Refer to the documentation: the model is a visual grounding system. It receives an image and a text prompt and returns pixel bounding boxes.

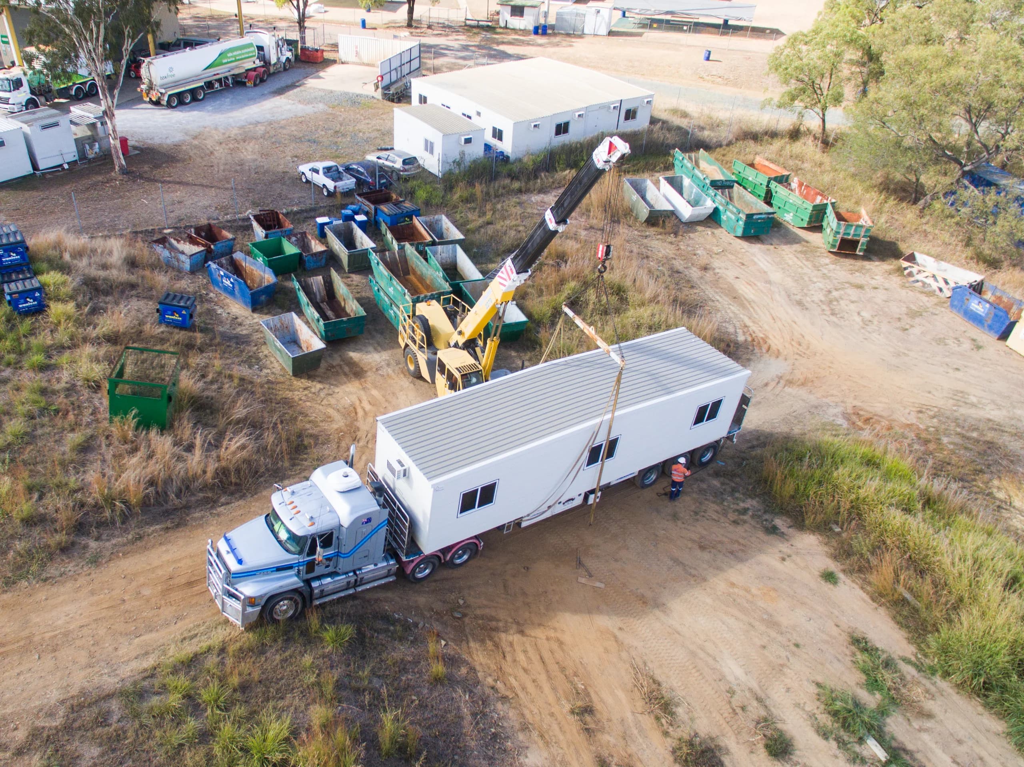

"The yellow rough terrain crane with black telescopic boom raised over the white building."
[399,143,640,399]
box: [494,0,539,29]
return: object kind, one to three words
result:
shed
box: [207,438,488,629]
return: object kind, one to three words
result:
truck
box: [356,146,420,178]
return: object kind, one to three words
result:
car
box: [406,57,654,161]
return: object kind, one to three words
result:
building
